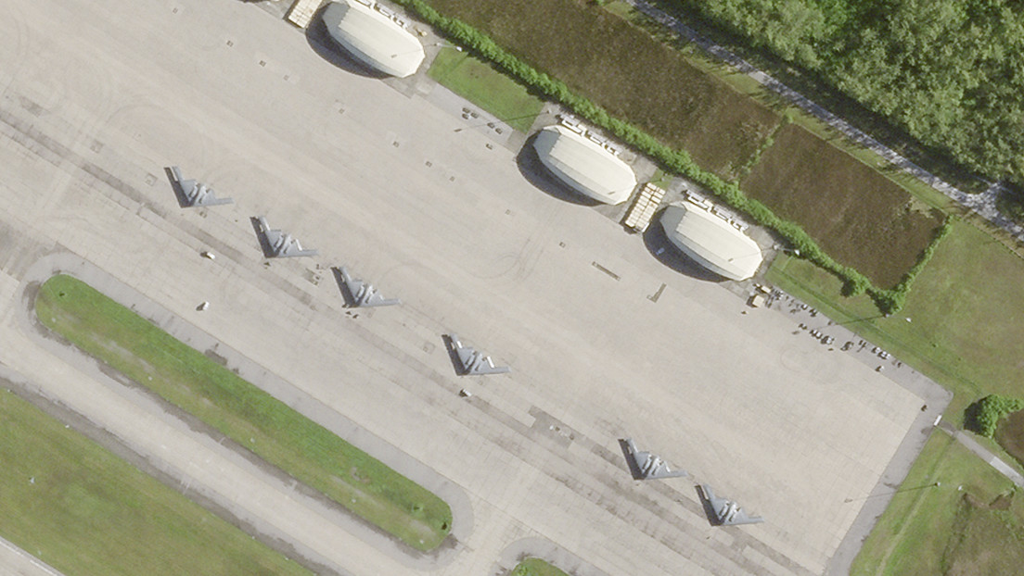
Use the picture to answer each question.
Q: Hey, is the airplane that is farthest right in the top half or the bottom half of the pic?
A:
bottom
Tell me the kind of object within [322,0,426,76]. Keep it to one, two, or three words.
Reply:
hangar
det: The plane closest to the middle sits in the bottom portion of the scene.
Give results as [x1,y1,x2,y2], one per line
[451,337,512,375]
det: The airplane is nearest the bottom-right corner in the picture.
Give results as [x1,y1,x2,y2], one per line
[705,487,765,525]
